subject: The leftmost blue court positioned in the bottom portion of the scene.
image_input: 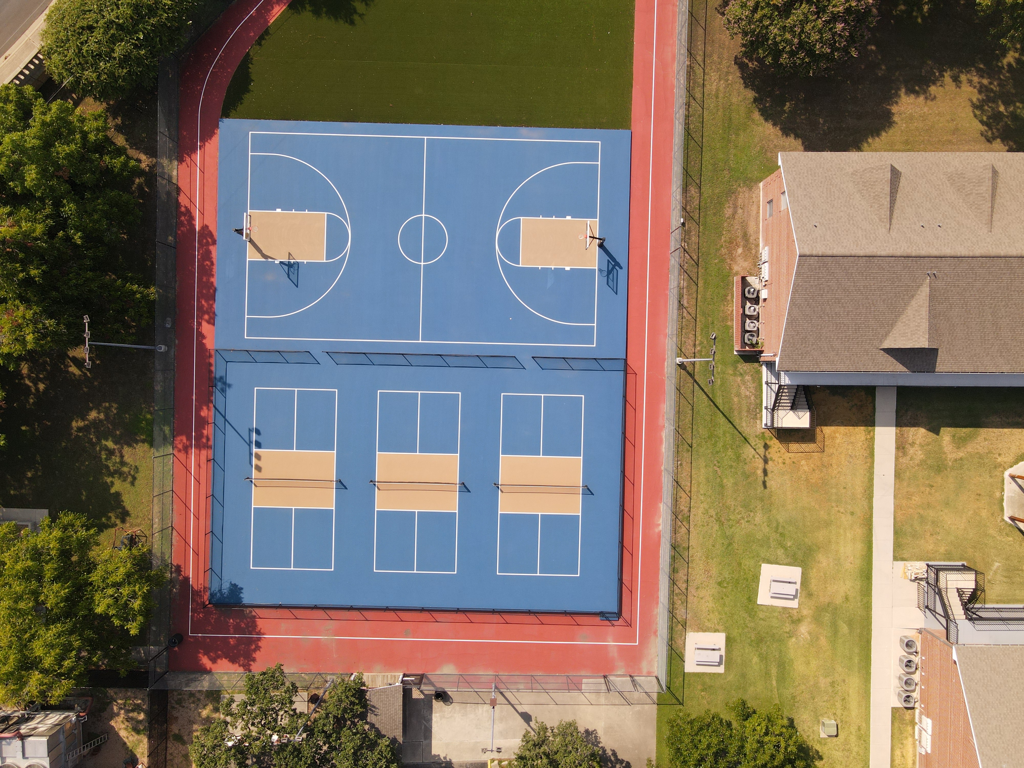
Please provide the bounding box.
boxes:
[242,380,345,579]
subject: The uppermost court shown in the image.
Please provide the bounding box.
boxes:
[213,118,632,359]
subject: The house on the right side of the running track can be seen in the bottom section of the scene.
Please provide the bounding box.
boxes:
[915,603,1024,768]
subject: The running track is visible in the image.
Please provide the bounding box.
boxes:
[169,0,678,690]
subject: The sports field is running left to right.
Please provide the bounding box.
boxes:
[220,0,635,129]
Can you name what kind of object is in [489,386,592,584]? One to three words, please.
sports court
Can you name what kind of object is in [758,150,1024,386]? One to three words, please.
house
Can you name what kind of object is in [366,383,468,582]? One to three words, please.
sports court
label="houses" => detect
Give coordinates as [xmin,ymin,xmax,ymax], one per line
[758,150,1024,386]
[915,603,1024,768]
